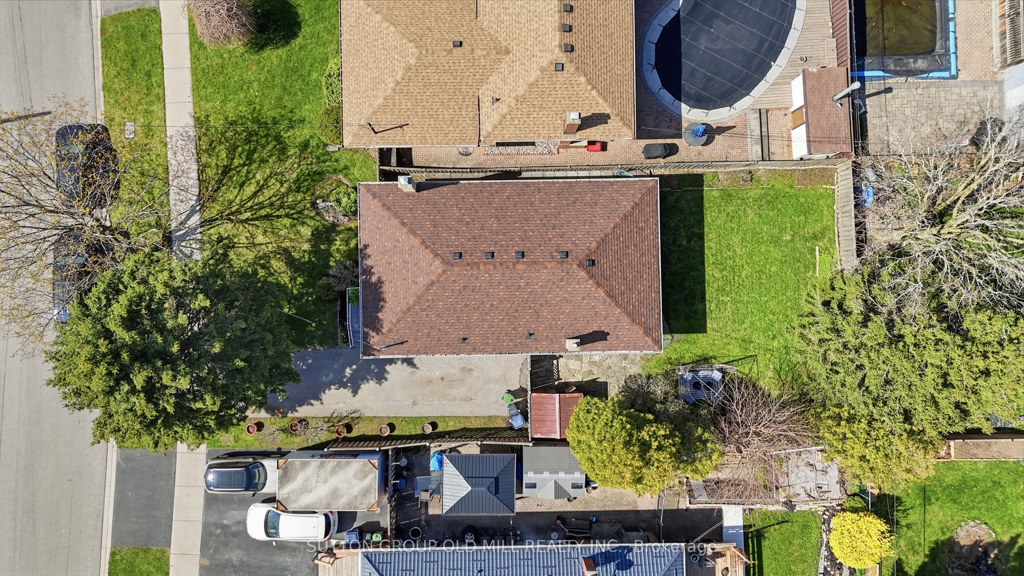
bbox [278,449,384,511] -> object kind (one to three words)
trailer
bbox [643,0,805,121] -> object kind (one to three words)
swimming pool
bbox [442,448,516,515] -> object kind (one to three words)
gazebo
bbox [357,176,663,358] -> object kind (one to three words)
house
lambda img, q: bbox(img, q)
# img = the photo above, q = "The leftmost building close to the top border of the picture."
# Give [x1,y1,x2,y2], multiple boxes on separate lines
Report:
[340,0,636,150]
